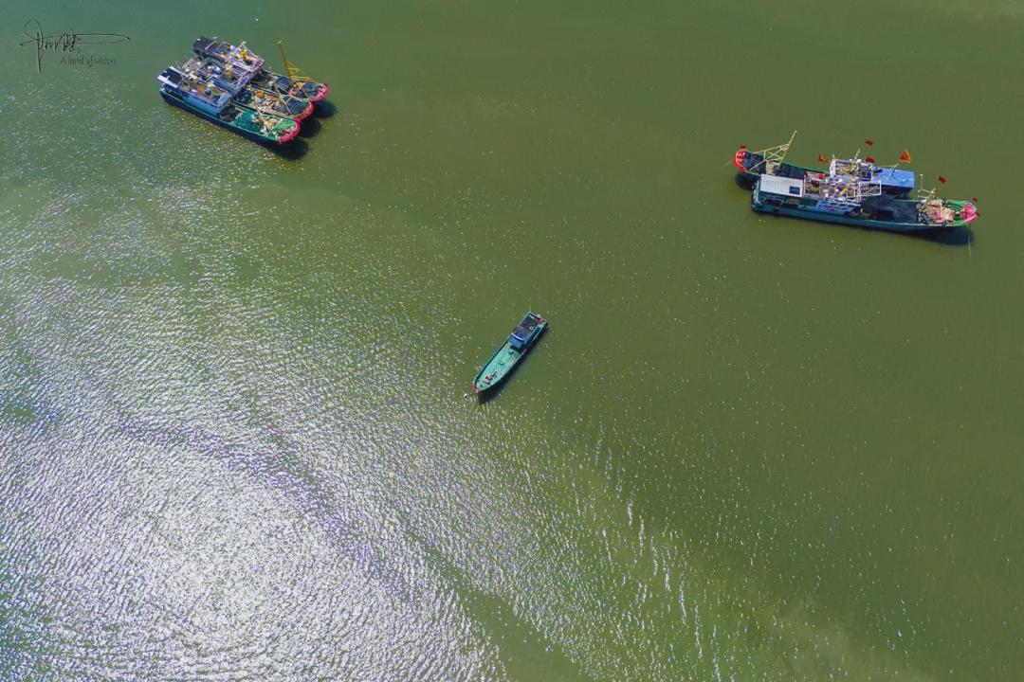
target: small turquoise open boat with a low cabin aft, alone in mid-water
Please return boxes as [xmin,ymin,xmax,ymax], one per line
[472,308,546,393]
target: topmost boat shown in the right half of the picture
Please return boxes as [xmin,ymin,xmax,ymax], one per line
[701,129,916,197]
